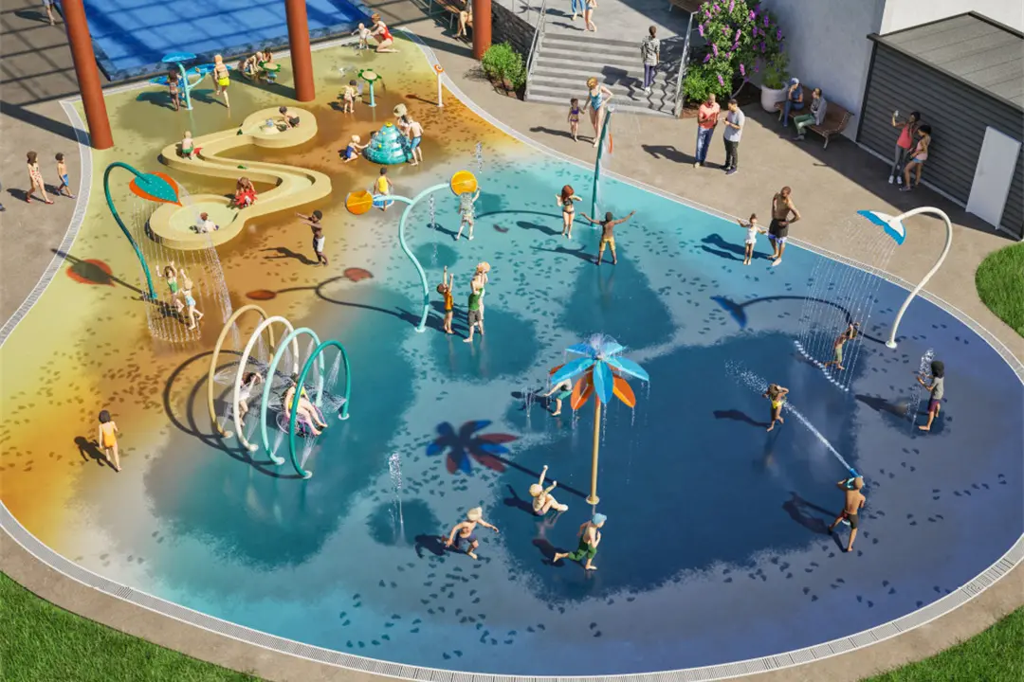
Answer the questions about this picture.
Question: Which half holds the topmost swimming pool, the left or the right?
left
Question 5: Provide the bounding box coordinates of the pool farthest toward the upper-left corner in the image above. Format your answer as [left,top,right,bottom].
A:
[33,0,378,82]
